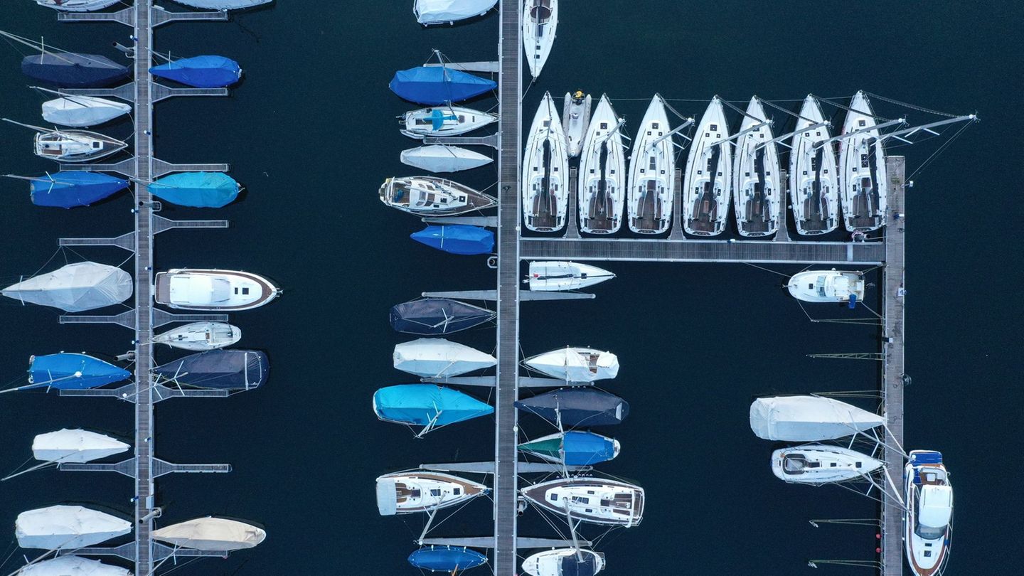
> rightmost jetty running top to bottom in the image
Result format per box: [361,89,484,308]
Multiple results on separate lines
[869,156,905,576]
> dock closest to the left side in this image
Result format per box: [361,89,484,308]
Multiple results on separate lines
[56,0,230,576]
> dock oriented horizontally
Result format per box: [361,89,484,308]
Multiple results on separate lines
[520,167,885,264]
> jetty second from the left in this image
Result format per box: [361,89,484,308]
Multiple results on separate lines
[416,0,598,576]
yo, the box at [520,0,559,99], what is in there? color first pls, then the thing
white boat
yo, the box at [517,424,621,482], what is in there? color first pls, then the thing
blue boat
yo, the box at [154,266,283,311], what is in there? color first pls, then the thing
white boat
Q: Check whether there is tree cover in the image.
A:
No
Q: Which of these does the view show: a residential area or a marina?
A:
marina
